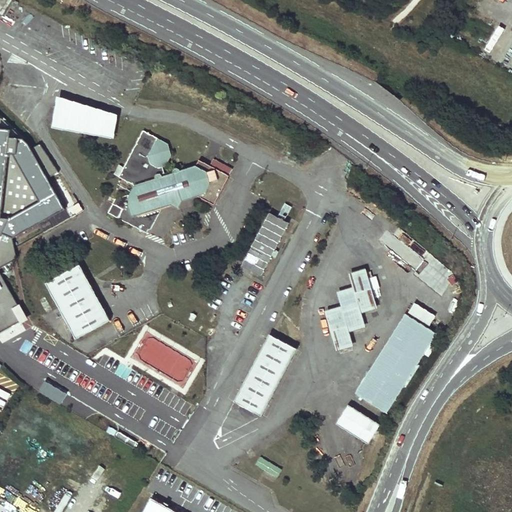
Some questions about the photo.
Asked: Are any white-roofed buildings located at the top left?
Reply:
Yes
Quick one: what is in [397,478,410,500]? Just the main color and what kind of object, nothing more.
white vehicle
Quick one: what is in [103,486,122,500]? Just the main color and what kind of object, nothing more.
white vehicle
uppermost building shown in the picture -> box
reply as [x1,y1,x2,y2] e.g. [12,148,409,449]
[52,96,117,140]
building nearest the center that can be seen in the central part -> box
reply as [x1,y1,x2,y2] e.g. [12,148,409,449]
[243,213,289,278]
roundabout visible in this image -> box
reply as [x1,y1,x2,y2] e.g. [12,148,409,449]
[470,172,512,313]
